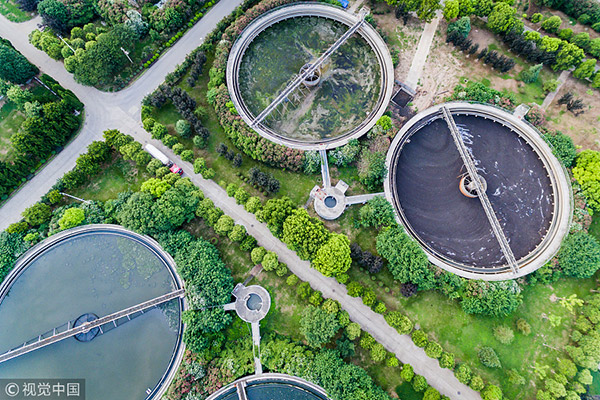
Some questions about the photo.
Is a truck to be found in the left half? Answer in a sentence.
Yes, a truck can be seen in the left half.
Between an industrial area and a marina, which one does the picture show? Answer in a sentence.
The picture captures an industrial area.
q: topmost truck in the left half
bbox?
[146,145,188,177]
